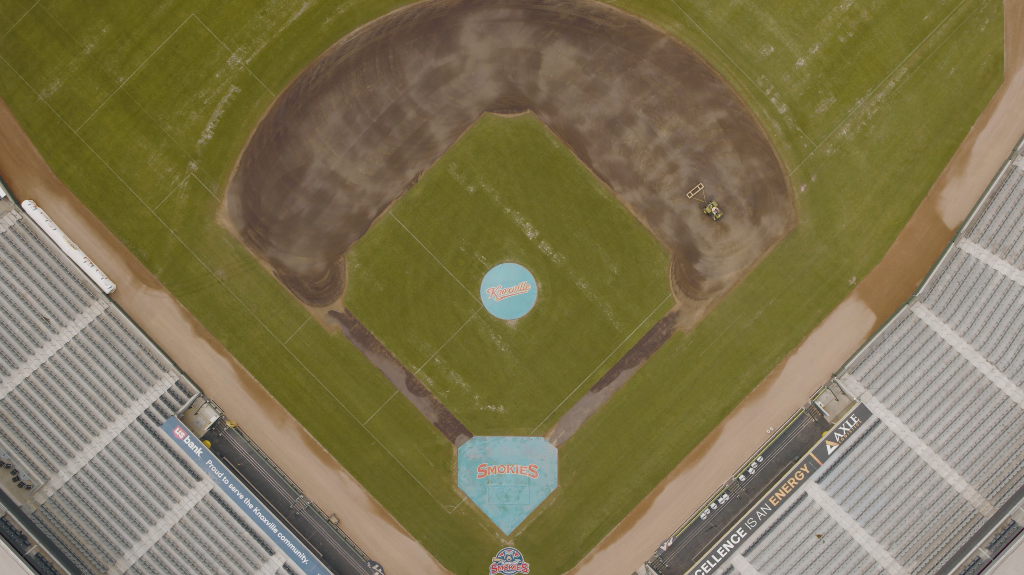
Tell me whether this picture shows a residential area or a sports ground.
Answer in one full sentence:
This image shows a sports ground.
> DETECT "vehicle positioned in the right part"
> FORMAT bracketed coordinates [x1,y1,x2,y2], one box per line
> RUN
[702,199,724,222]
